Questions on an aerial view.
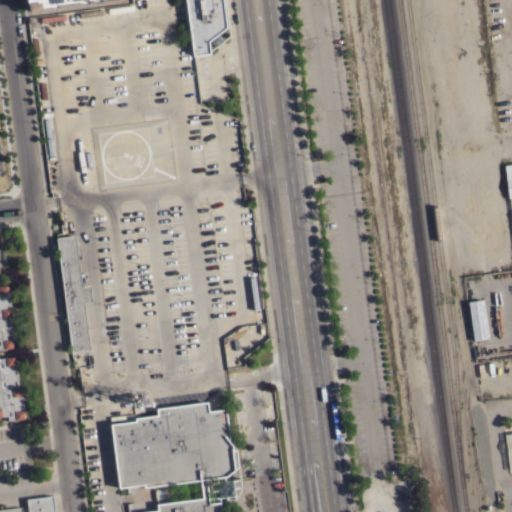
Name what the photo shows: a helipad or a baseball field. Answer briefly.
helipad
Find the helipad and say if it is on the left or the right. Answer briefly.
left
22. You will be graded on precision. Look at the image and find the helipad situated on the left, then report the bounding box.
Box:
[92,119,176,191]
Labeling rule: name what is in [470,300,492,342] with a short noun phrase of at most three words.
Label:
building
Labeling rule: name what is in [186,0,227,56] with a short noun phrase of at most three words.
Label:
building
